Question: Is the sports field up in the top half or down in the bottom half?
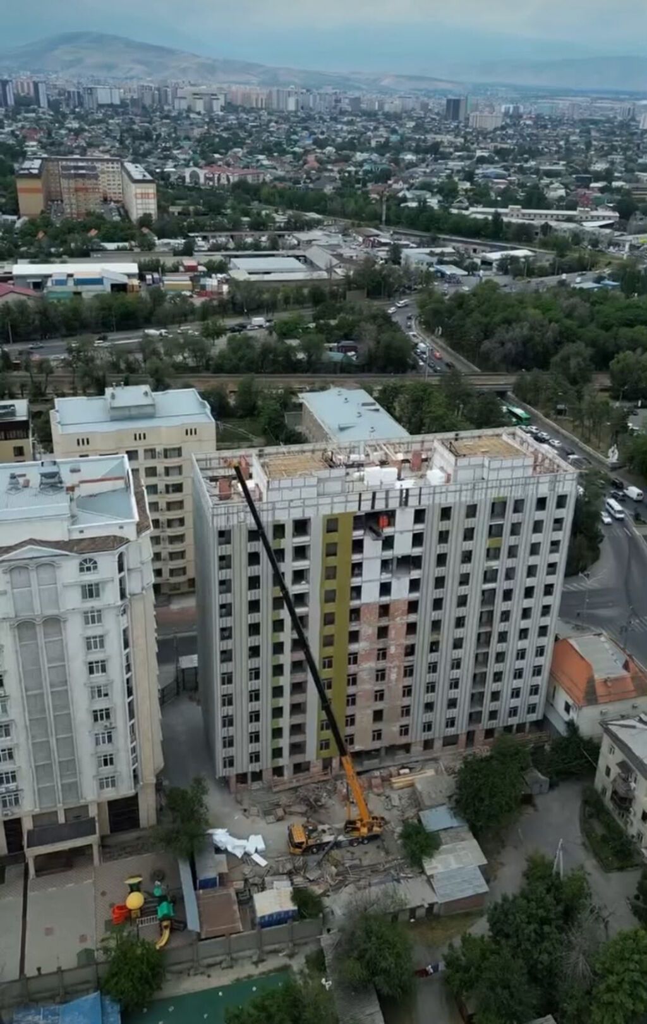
bottom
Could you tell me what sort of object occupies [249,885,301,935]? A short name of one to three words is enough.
building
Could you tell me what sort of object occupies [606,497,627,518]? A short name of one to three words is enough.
vehicle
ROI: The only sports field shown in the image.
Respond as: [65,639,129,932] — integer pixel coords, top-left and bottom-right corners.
[125,962,306,1024]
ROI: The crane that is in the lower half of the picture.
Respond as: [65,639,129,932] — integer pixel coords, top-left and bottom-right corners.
[233,461,389,855]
